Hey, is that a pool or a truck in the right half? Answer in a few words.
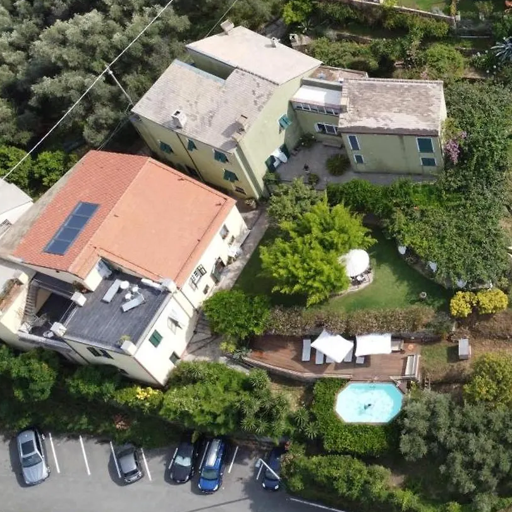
pool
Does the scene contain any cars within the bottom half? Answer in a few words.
Yes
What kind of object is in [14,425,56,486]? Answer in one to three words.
car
